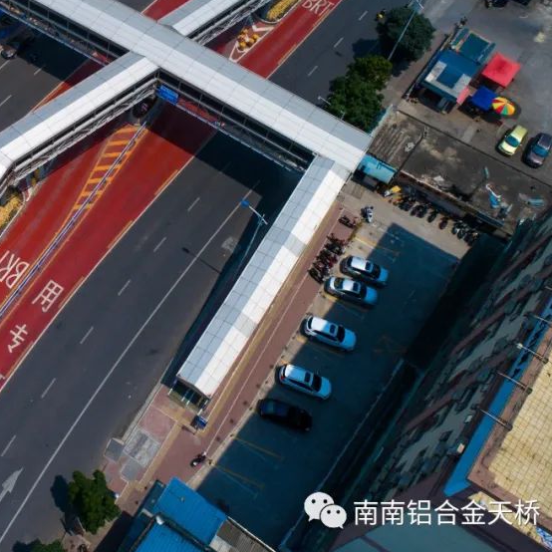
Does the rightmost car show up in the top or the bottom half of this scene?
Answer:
top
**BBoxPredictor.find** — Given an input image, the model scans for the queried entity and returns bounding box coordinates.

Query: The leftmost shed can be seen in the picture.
[118,481,166,552]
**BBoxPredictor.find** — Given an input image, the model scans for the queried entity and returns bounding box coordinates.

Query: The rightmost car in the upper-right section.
[524,129,552,166]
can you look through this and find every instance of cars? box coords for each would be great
[303,315,356,353]
[277,366,332,403]
[524,129,552,166]
[325,275,377,309]
[255,395,313,435]
[496,124,530,155]
[339,254,391,289]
